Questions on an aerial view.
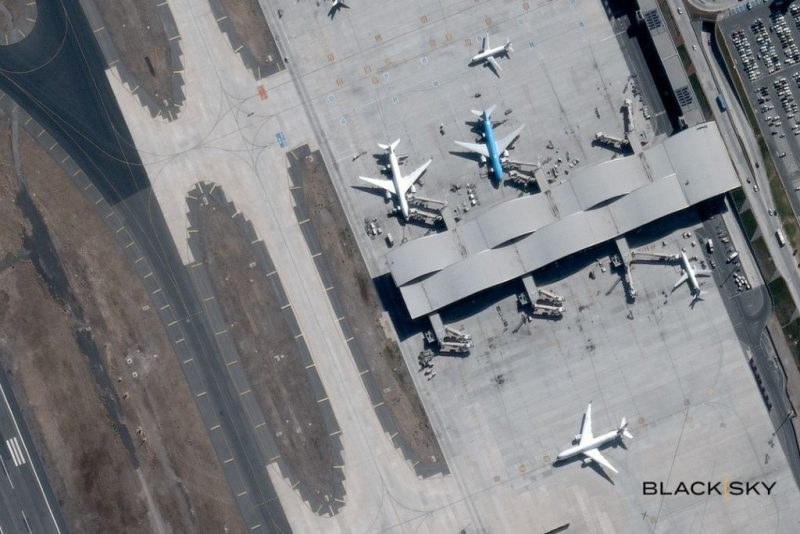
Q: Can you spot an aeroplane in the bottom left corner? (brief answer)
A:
No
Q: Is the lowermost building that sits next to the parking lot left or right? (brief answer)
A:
right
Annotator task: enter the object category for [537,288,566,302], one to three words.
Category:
jet bridge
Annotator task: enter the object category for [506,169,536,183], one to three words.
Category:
jet bridge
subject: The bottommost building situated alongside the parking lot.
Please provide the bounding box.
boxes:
[387,120,741,319]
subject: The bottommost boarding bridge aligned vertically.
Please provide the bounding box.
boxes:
[626,264,638,300]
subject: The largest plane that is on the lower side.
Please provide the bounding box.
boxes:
[558,404,633,472]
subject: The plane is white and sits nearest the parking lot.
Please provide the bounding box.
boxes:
[669,252,716,301]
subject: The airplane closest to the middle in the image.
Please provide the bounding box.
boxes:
[358,140,434,220]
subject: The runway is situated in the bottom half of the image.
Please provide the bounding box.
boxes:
[0,362,68,534]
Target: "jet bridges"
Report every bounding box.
[506,169,536,183]
[533,303,566,313]
[409,207,443,219]
[626,264,638,300]
[444,326,473,340]
[500,157,541,169]
[410,197,449,208]
[630,250,683,262]
[537,288,566,302]
[439,340,473,349]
